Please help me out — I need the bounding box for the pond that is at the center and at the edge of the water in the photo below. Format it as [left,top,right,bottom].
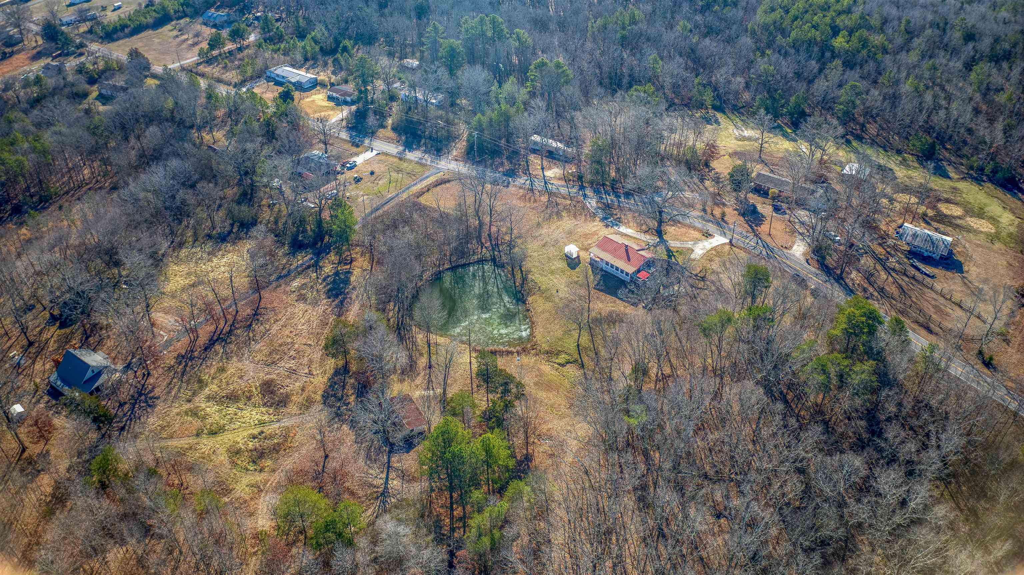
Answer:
[409,260,533,347]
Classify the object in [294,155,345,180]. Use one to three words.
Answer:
house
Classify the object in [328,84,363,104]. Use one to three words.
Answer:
house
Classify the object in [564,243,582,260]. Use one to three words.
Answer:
gazebo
